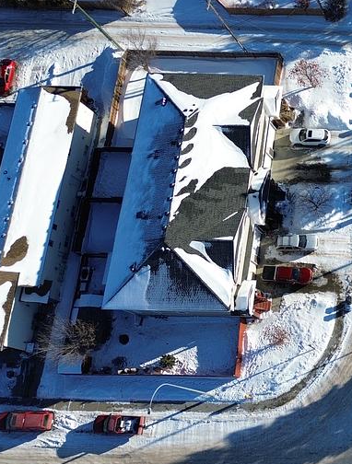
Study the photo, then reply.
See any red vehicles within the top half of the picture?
Yes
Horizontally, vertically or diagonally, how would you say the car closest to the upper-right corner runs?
horizontally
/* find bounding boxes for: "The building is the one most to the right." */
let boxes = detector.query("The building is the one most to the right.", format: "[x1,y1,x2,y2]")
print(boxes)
[105,74,289,317]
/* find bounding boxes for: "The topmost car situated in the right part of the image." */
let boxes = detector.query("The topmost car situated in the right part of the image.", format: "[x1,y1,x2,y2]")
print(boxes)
[290,129,332,149]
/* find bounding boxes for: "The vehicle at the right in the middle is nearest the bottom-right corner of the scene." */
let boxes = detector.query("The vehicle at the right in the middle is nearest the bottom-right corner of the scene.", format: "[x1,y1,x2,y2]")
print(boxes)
[260,264,315,286]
